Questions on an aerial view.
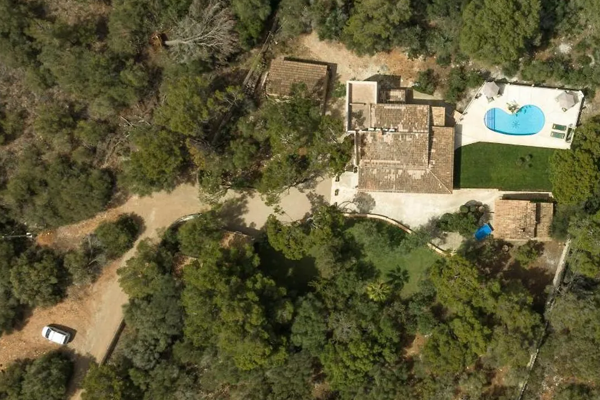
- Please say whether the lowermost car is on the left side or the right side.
left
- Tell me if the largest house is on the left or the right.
right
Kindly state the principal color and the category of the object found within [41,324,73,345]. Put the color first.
white car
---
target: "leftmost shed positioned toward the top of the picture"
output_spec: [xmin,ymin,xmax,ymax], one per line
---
[266,58,330,102]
